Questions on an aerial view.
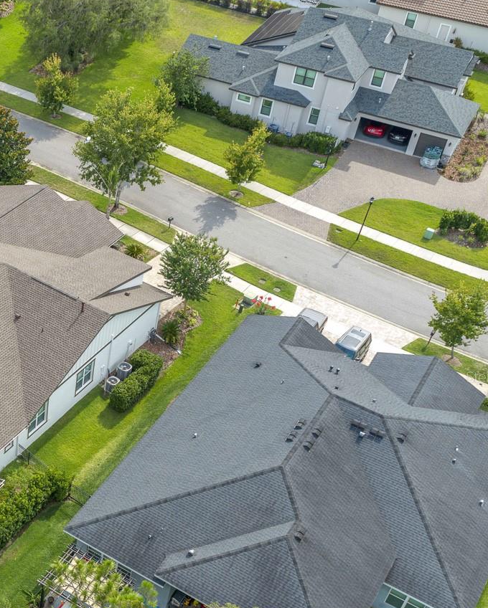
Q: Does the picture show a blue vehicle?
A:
No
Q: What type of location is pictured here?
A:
residential area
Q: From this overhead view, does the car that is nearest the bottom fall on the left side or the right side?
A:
right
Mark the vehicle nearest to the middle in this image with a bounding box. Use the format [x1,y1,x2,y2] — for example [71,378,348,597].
[282,297,317,325]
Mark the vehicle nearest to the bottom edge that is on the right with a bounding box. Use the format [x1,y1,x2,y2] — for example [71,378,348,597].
[331,324,366,359]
